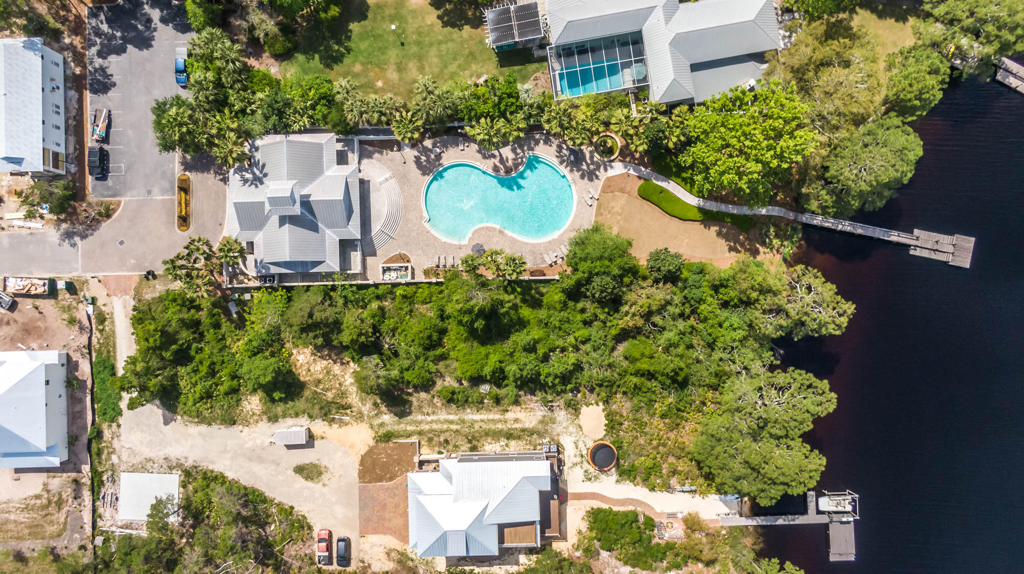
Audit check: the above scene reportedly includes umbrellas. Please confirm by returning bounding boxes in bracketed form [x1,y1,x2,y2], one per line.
[628,61,648,81]
[567,148,580,162]
[471,242,485,257]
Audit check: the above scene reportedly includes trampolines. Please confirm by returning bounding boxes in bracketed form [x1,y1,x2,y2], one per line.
[588,441,617,474]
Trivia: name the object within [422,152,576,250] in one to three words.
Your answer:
swimming pool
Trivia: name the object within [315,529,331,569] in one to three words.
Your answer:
vehicle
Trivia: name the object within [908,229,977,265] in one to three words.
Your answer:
pier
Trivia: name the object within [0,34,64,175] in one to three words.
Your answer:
house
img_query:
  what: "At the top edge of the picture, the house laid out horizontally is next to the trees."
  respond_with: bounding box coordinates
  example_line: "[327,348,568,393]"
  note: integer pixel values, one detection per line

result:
[545,0,779,102]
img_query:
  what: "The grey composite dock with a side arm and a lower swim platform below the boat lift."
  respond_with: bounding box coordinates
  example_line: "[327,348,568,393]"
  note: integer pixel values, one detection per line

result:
[720,491,858,561]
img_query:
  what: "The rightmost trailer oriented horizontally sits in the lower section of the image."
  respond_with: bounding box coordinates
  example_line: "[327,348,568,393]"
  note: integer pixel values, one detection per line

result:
[271,426,311,445]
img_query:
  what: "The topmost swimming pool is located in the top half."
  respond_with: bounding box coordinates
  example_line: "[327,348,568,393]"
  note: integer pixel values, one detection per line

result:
[557,60,629,97]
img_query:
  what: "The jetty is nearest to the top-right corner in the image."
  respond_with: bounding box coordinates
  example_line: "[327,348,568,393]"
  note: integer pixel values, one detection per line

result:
[990,57,1024,94]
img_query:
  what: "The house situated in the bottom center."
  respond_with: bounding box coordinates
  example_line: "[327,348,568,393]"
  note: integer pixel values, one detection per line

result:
[407,452,560,559]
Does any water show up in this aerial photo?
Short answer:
Yes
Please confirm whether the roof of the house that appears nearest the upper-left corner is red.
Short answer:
No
